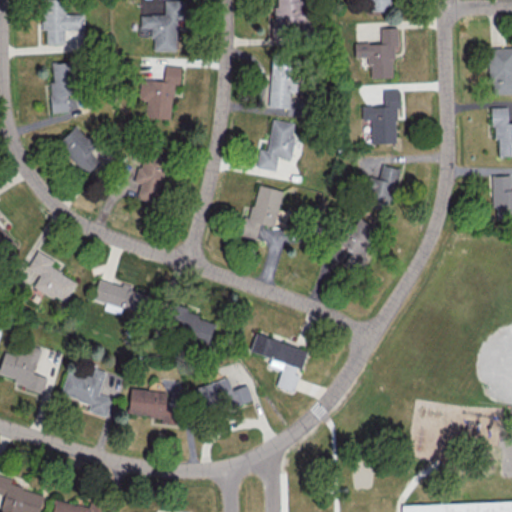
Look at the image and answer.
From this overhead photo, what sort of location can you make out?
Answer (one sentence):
It's a residential area.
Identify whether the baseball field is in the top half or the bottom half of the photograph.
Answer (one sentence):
The bottom half of the photo is where the baseball field is.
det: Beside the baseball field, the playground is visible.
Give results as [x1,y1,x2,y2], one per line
[411,400,504,464]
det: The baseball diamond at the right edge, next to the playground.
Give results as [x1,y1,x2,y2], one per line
[476,324,512,405]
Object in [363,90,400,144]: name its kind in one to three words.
house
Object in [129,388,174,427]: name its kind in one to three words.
house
